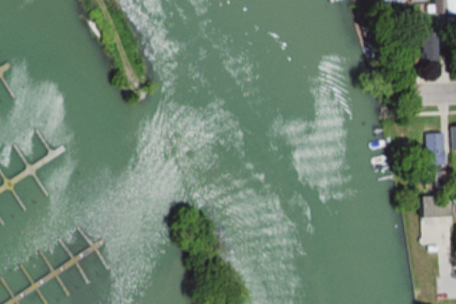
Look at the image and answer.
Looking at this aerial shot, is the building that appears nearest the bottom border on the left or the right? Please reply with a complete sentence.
The building that appears nearest the bottom border is on the right side of the image.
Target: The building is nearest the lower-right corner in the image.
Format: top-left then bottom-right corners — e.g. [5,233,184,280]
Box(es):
[423,196,453,218]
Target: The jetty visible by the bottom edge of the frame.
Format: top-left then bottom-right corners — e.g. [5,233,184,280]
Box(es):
[0,227,110,304]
